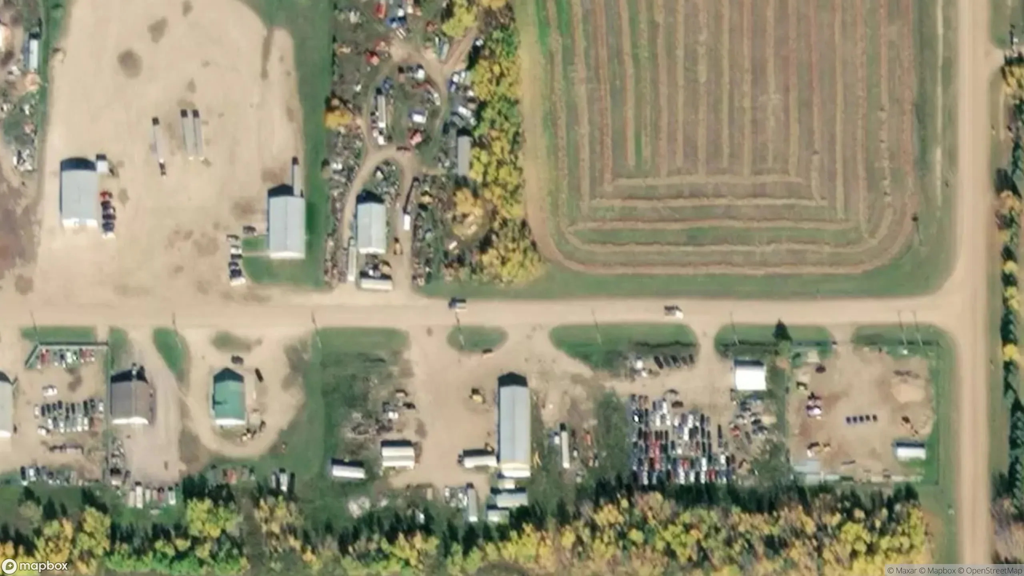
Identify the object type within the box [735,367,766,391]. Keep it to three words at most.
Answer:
shed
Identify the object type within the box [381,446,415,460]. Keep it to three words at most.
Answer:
shed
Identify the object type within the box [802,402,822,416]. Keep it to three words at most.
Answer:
work vehicle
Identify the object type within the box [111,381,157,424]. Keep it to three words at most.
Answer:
building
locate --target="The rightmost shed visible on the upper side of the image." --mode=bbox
[458,136,471,178]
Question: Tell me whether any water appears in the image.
No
